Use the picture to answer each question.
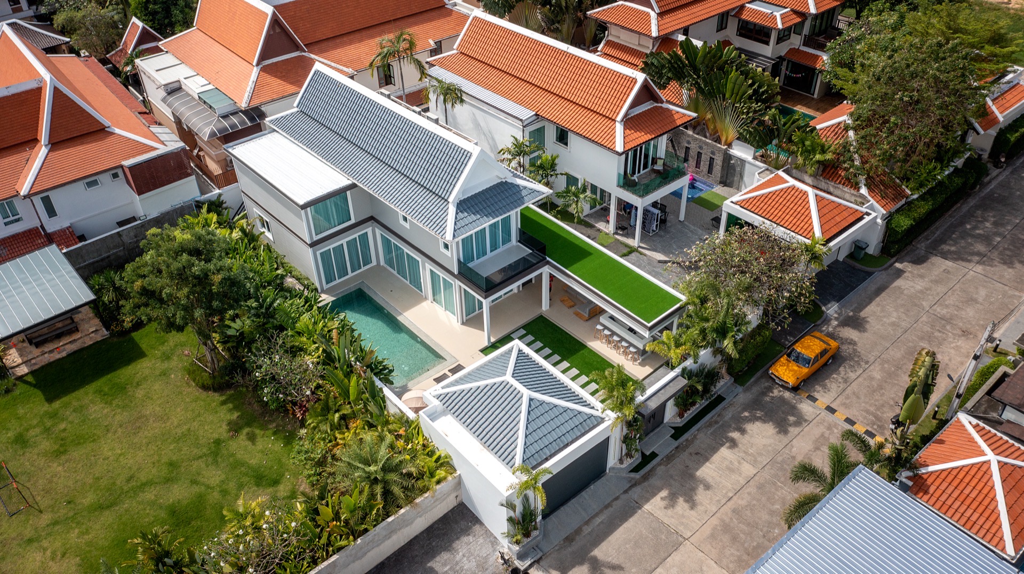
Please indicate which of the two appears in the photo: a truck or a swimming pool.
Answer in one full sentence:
Visible in the photo is a swimming pool.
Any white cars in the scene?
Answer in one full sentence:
No, no white car is visible in the view.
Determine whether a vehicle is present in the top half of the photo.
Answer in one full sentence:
No, no vehicle can be made out in the top half of the photo.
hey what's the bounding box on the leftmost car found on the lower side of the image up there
[766,332,839,393]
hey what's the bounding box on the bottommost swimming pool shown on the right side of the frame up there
[674,172,718,205]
